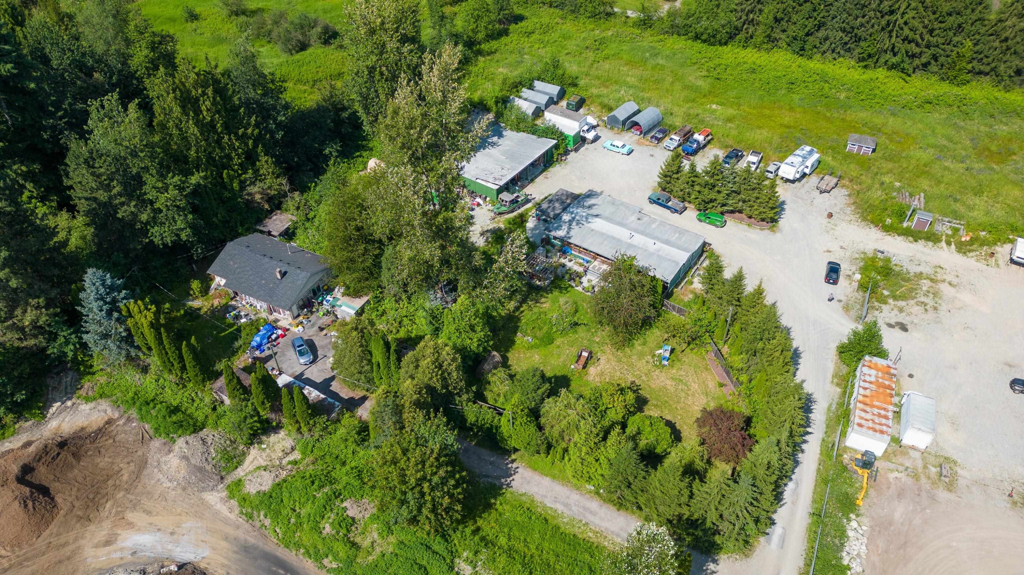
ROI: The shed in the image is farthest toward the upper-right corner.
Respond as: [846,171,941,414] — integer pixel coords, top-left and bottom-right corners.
[845,134,878,158]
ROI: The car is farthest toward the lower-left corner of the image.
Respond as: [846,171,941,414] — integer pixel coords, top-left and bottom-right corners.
[291,336,313,368]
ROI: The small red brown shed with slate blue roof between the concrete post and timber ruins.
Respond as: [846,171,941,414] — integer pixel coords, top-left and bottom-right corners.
[911,210,934,231]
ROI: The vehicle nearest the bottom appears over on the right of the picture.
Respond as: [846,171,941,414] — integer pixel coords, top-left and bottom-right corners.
[850,452,881,503]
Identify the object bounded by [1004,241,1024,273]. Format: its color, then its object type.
white camper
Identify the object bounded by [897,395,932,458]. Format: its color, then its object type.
white truck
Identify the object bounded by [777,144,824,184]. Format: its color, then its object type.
white vehicle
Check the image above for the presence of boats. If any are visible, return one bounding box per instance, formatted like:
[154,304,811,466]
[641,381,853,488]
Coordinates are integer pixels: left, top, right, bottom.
[492,189,534,216]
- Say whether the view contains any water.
No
